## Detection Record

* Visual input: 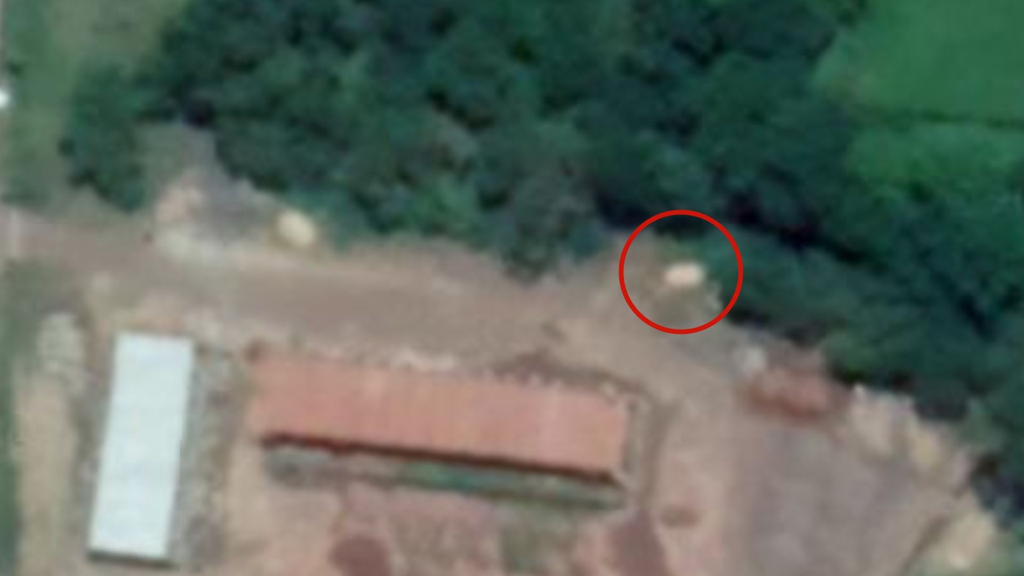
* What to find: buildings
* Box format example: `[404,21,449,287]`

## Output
[250,356,633,503]
[90,335,195,558]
